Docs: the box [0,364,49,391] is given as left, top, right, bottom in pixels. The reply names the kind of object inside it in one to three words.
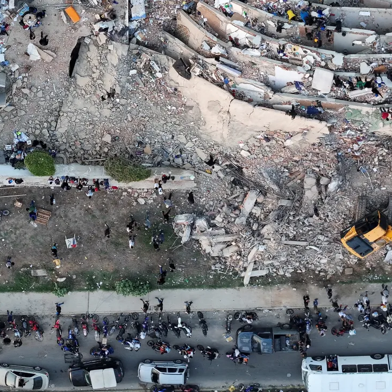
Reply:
car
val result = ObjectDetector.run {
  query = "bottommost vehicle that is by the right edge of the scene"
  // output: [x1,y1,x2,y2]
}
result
[301,355,392,392]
